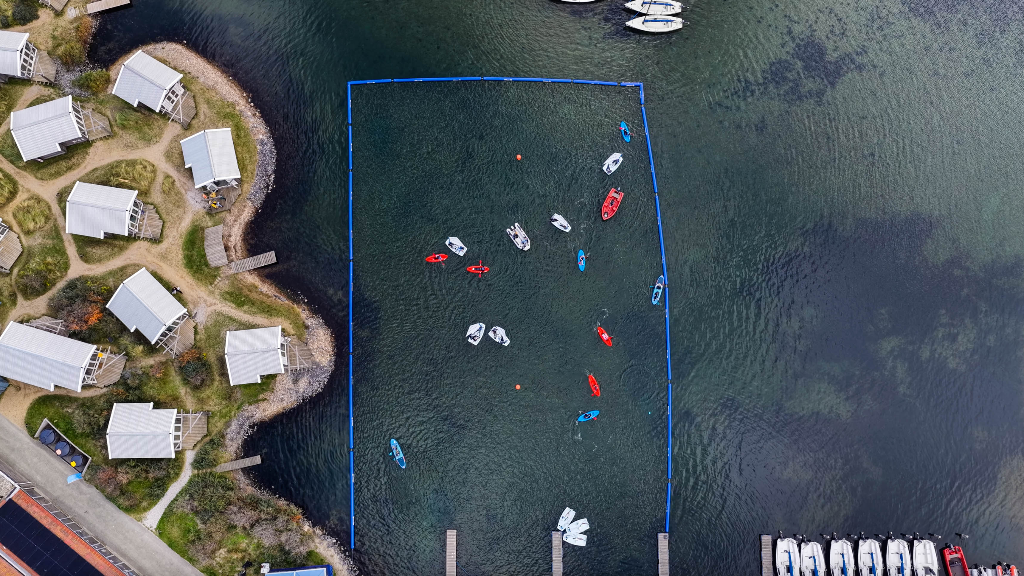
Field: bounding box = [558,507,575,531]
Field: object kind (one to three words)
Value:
boat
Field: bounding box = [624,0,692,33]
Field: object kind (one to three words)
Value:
boat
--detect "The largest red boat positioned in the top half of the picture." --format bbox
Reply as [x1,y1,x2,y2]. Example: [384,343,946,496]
[602,186,624,221]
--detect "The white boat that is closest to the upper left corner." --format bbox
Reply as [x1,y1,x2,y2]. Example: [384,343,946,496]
[445,237,467,256]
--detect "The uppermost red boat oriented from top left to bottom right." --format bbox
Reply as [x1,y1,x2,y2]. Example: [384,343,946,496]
[597,327,612,347]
